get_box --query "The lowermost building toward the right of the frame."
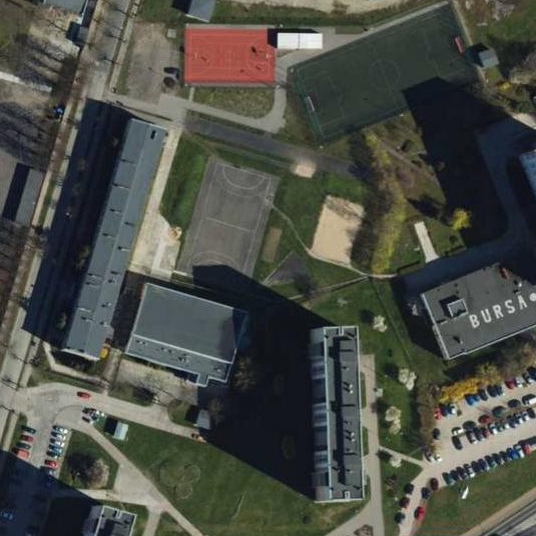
[309,326,363,500]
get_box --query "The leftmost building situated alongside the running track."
[62,117,168,360]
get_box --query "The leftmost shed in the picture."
[17,168,45,225]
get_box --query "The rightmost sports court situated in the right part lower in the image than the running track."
[311,195,363,265]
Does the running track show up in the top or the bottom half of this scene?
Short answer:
top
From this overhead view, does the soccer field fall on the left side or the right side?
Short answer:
right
